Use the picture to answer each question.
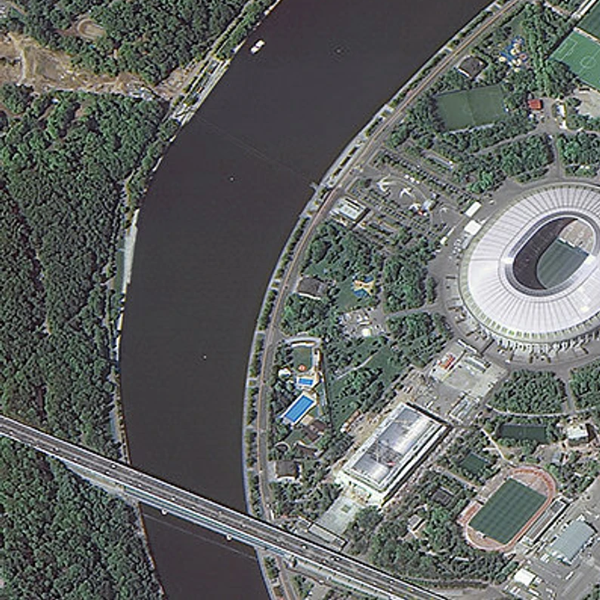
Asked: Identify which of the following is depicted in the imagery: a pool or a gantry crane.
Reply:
pool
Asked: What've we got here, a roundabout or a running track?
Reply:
running track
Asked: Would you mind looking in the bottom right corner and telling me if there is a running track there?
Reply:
Yes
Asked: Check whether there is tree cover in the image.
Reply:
Yes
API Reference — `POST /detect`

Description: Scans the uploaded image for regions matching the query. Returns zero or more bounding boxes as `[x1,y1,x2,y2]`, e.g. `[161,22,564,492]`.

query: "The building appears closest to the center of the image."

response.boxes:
[296,278,326,299]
